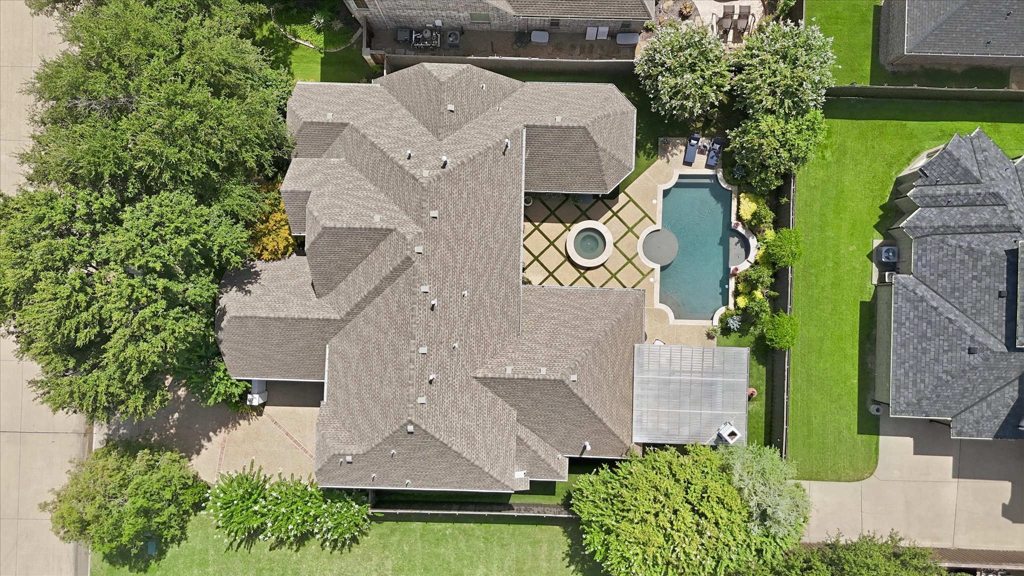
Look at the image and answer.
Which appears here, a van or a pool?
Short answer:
pool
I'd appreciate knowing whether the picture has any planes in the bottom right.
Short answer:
No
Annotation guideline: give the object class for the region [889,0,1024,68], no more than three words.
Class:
house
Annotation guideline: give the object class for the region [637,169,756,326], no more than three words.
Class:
swimming pool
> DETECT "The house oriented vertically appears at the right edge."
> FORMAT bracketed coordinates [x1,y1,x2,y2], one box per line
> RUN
[872,127,1024,443]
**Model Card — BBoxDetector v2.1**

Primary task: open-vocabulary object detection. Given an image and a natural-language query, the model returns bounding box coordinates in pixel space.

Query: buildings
[214,62,647,494]
[889,0,1024,68]
[347,0,662,34]
[872,127,1024,443]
